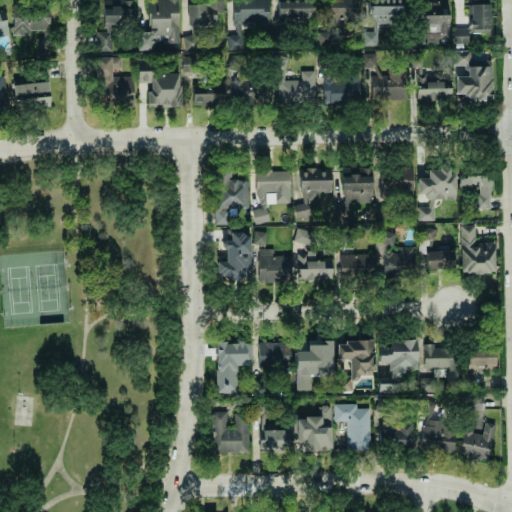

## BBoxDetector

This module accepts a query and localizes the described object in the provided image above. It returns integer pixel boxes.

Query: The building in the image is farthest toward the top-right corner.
[469,4,494,34]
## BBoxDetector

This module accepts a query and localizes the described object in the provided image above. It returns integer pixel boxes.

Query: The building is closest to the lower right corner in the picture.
[463,422,494,461]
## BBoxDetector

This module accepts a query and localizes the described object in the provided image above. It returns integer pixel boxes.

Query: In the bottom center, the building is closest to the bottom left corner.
[213,411,250,454]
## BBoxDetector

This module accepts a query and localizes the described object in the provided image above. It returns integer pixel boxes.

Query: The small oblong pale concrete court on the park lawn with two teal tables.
[15,396,34,426]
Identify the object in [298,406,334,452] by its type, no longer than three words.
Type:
house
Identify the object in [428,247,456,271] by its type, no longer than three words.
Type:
house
